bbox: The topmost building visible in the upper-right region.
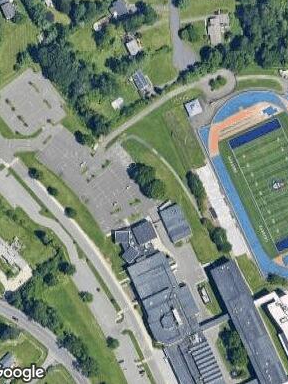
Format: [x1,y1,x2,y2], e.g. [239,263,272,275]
[201,14,225,44]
